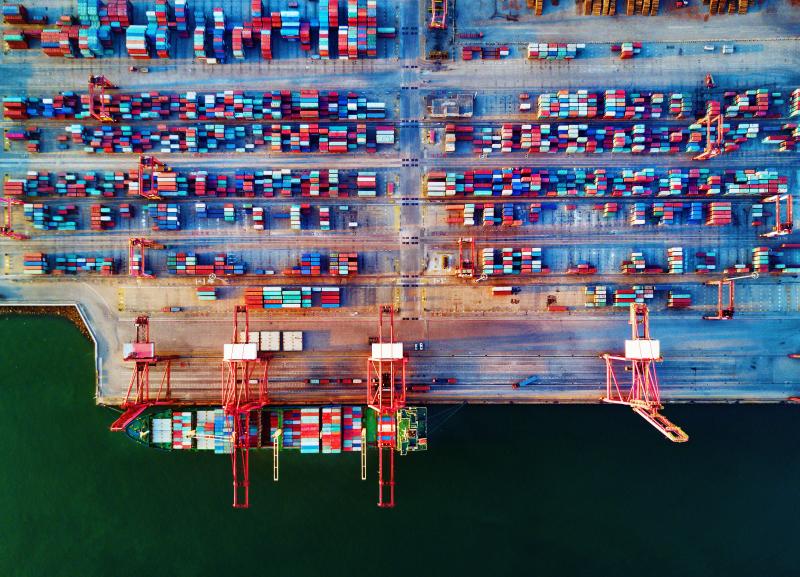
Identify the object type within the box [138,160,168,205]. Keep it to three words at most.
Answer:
container crane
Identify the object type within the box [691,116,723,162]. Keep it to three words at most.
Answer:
container crane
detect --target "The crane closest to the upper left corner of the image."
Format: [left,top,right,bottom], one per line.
[89,80,121,128]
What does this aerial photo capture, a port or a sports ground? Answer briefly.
port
